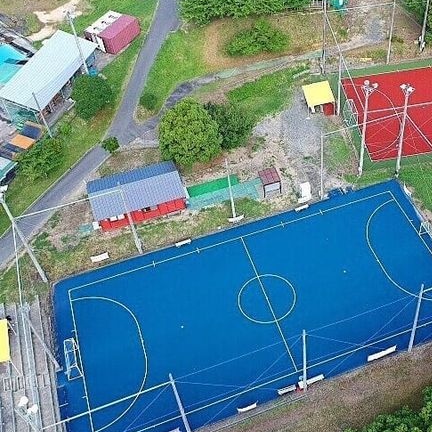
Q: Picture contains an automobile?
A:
No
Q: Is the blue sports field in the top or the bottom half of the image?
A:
bottom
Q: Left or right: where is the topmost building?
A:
left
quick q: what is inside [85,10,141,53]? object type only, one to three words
building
